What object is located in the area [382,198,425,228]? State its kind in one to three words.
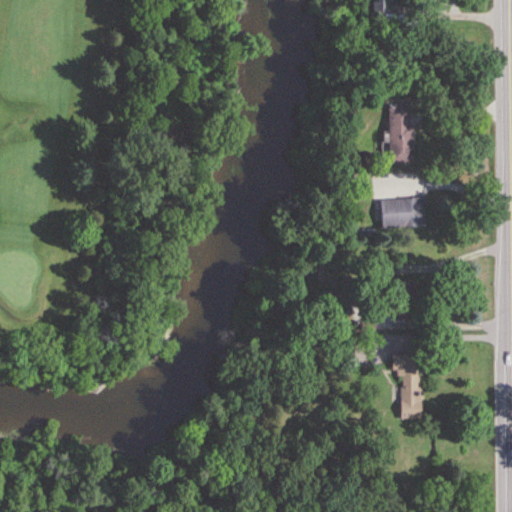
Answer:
building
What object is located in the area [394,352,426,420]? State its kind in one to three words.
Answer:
house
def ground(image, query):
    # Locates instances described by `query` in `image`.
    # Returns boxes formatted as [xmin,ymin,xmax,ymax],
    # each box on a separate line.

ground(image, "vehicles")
[373,354,380,364]
[506,354,512,366]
